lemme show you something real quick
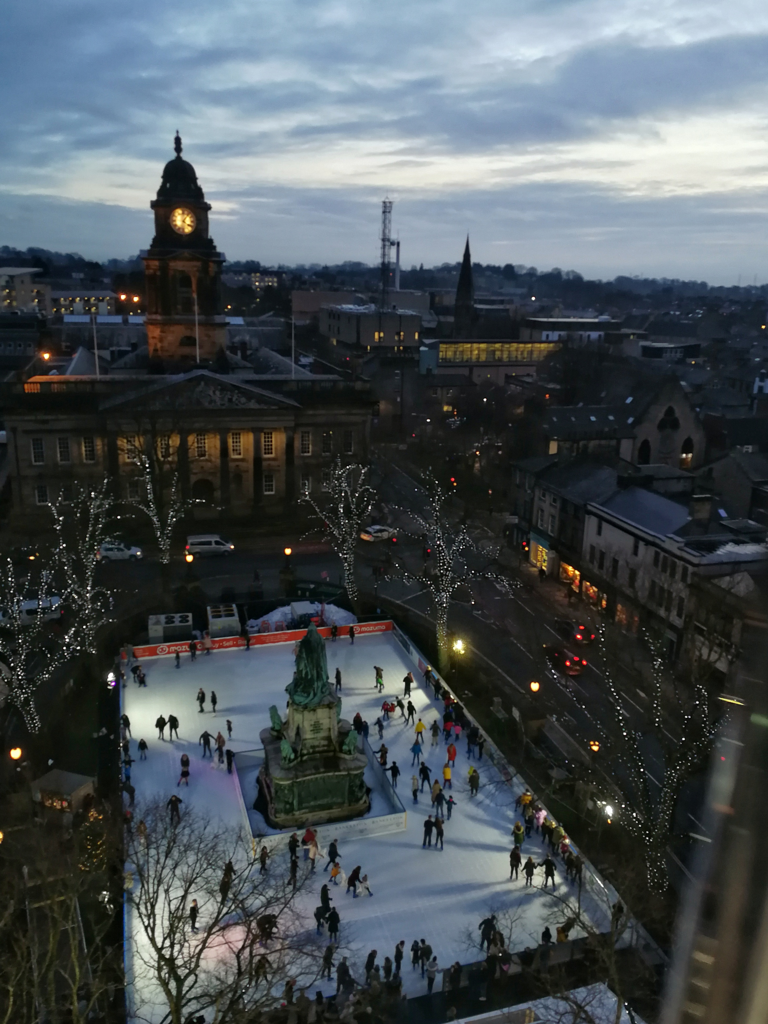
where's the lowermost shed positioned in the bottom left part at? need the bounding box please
[18,773,92,850]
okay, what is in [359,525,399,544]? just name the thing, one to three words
car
